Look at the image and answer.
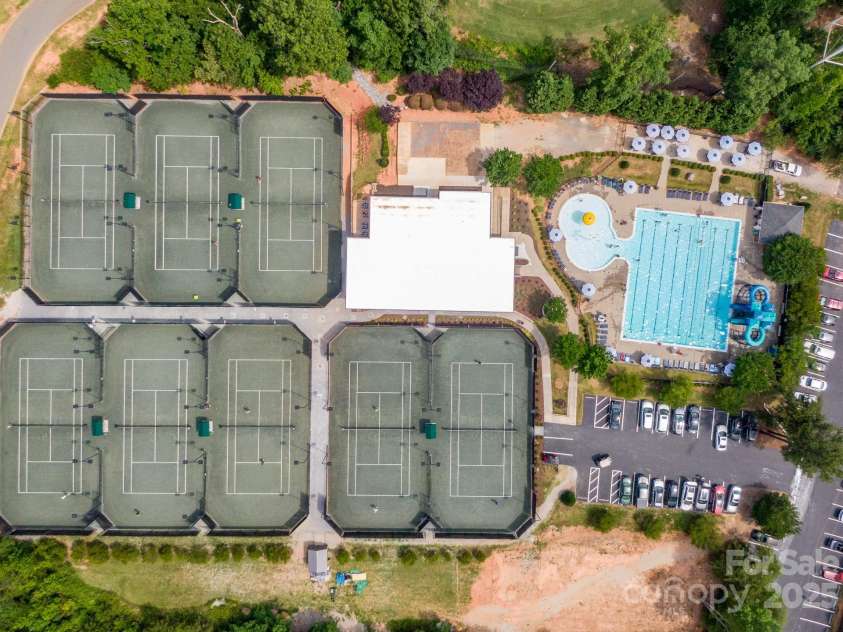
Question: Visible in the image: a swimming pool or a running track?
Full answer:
It is a swimming pool that can be seen here.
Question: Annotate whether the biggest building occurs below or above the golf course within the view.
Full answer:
The position of the biggest building is below the golf course.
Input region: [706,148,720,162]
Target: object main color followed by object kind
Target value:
white umbrella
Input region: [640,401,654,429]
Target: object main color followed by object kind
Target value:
white car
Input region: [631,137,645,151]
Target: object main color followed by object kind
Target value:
white umbrella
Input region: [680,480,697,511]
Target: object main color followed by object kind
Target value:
white vehicle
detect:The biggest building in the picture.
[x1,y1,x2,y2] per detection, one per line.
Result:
[347,186,515,311]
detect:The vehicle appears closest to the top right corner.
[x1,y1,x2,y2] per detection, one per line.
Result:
[769,160,804,178]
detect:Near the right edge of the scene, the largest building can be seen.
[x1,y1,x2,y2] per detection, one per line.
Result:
[751,202,804,245]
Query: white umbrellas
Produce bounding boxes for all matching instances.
[746,142,761,157]
[631,137,645,151]
[622,179,637,194]
[706,148,720,162]
[651,140,666,155]
[730,153,745,168]
[719,192,733,206]
[674,128,689,143]
[645,124,659,139]
[605,346,617,358]
[640,353,654,367]
[718,136,733,150]
[674,144,690,160]
[580,282,594,296]
[548,228,563,242]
